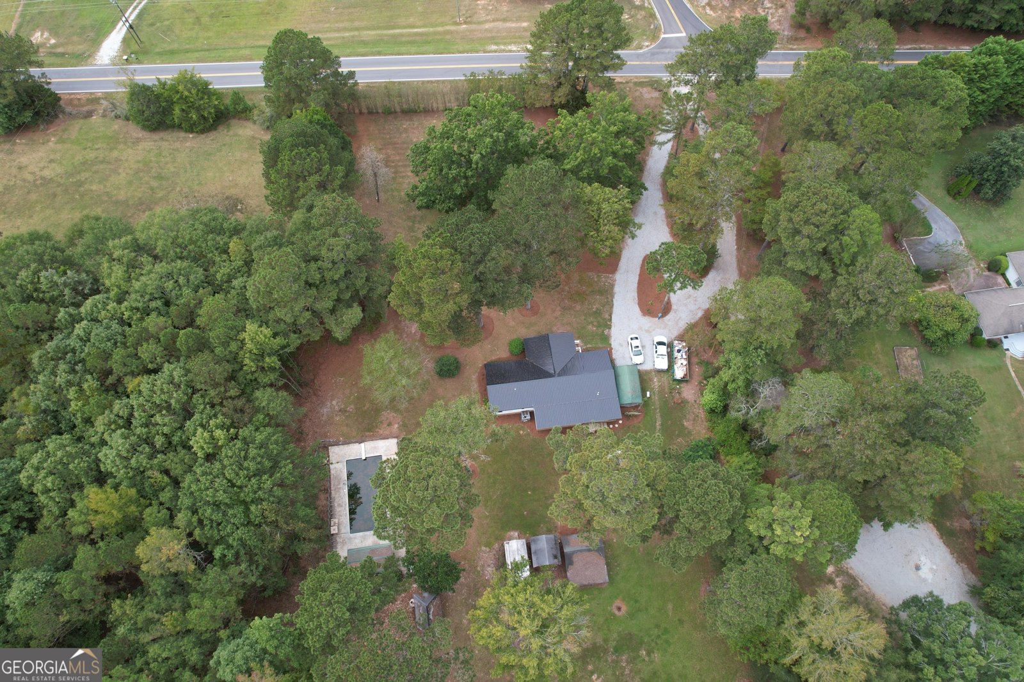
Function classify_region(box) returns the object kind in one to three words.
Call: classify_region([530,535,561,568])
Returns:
shed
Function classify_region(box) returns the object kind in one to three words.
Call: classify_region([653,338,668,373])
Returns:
vehicle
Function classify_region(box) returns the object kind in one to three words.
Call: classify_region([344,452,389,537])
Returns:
swimming pool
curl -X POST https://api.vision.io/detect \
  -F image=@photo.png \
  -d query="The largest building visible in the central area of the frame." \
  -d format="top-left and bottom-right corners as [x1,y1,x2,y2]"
[484,331,622,440]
